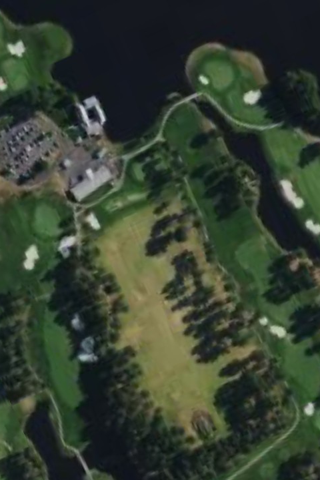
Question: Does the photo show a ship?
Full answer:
No, no ship is visible in the view.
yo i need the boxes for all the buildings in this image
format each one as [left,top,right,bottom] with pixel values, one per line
[76,95,104,134]
[66,161,114,200]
